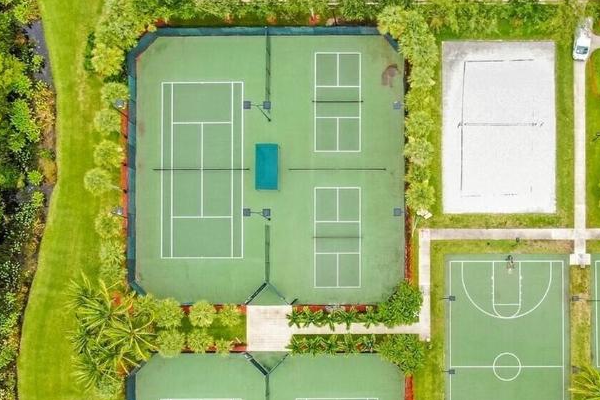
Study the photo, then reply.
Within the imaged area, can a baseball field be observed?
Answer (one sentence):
No, no baseball field can be seen from above.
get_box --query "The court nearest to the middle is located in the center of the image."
[312,187,363,288]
